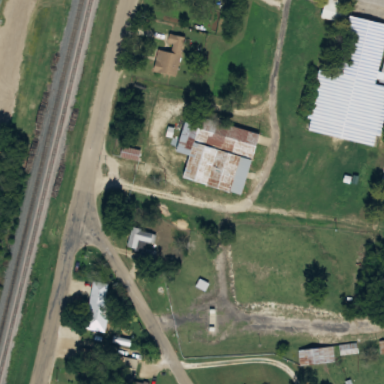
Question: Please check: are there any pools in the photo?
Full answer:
No, there is no pool in the image.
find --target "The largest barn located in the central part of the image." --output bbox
[176,116,260,196]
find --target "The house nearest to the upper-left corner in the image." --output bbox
[153,34,186,76]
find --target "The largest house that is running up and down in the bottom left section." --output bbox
[86,282,108,331]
